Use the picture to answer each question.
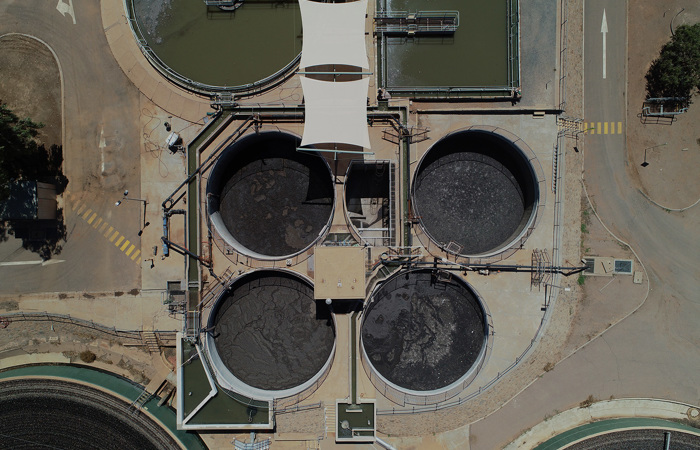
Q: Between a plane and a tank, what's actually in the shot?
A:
tank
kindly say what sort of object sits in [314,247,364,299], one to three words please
building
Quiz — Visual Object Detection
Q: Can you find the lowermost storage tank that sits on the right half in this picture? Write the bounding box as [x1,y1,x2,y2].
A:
[361,267,492,400]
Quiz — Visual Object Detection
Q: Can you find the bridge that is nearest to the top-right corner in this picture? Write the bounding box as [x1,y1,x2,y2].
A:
[375,12,458,36]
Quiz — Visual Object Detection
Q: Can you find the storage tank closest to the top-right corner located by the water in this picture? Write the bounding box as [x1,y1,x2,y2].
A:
[412,127,546,258]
